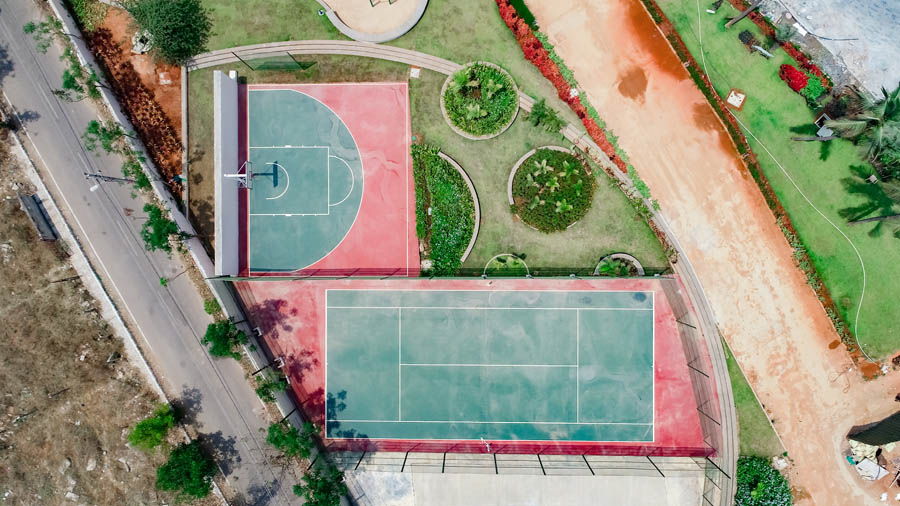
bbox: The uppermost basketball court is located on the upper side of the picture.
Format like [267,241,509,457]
[237,82,419,277]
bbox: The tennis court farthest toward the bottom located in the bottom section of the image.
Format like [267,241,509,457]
[225,278,722,457]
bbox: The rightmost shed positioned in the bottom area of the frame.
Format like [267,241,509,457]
[846,411,900,445]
